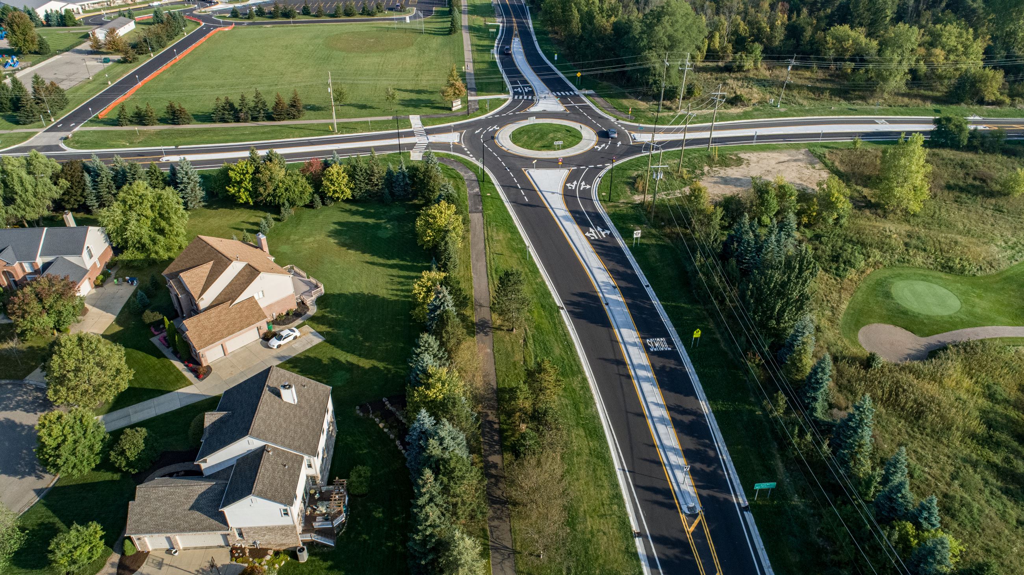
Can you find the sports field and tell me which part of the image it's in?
top left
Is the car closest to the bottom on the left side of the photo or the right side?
left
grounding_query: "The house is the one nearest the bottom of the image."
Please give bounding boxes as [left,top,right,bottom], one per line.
[124,364,335,553]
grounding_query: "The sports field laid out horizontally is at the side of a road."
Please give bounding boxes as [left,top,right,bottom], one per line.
[0,0,509,155]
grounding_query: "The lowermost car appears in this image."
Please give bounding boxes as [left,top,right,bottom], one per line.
[264,326,301,348]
